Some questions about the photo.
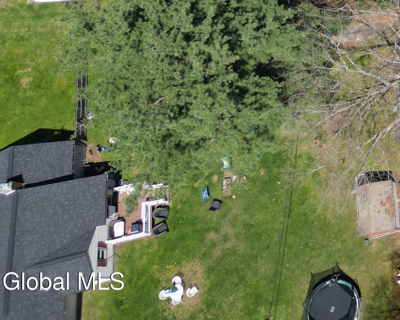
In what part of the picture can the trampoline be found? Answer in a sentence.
You can find the trampoline in the bottom right area of the picture.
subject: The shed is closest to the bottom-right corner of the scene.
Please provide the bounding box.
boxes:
[356,178,400,240]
